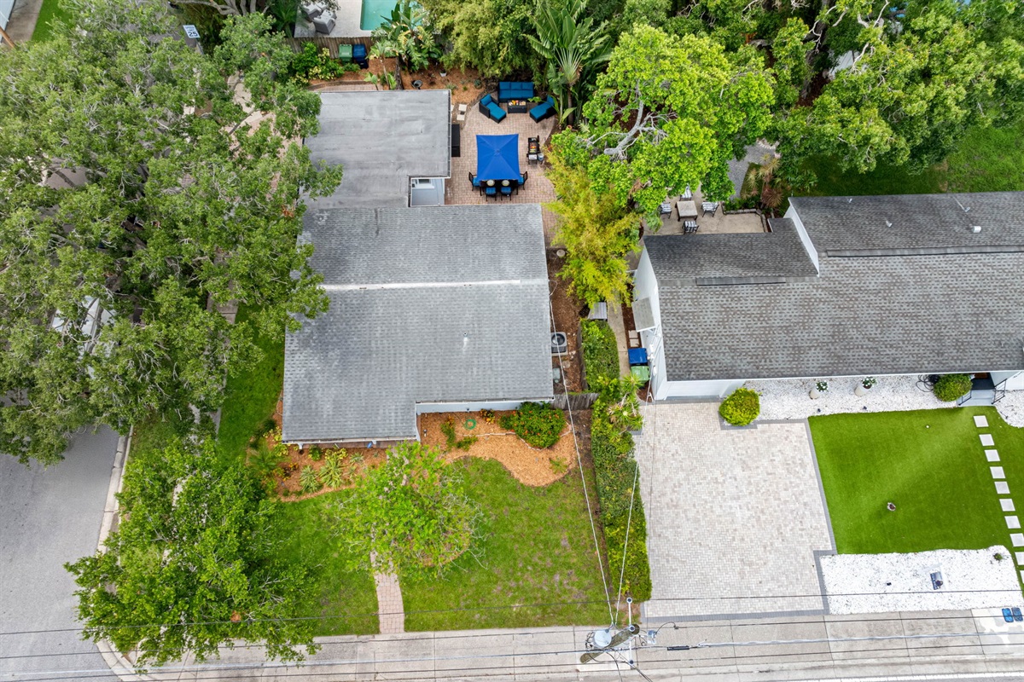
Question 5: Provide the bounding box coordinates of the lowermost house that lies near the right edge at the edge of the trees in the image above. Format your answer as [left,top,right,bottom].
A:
[632,191,1024,403]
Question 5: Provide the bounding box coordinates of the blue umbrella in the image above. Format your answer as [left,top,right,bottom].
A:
[476,134,520,181]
